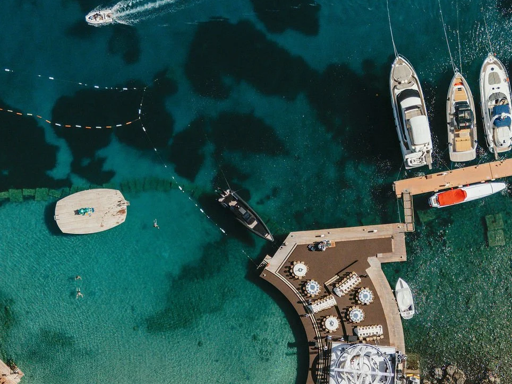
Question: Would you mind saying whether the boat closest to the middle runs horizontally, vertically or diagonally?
diagonally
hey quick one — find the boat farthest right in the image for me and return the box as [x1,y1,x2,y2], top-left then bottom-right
[478,52,512,163]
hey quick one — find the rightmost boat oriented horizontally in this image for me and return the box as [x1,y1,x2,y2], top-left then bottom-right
[424,181,507,210]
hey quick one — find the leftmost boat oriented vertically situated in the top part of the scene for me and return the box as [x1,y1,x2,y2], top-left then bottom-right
[389,55,432,178]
